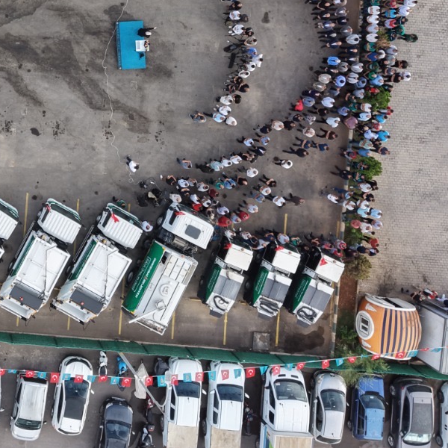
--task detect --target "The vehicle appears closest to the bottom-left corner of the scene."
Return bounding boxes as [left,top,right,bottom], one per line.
[12,371,47,442]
